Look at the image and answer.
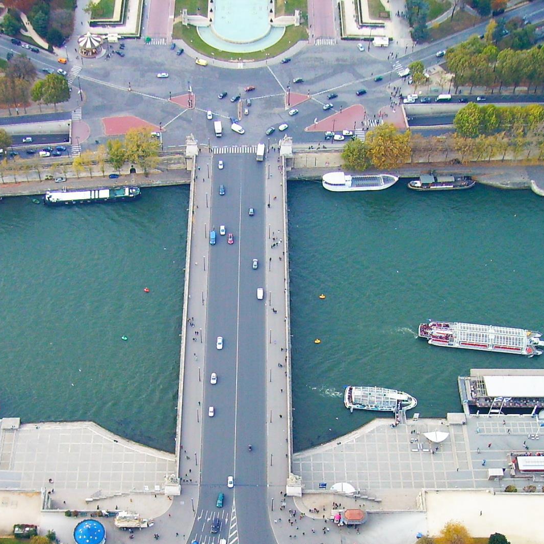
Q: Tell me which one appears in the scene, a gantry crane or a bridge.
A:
bridge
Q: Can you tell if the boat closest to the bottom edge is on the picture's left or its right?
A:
right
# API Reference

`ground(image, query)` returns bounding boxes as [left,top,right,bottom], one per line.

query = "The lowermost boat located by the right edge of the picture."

[419,320,544,360]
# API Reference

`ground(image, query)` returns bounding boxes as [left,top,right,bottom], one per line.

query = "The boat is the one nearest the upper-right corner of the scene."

[405,173,478,191]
